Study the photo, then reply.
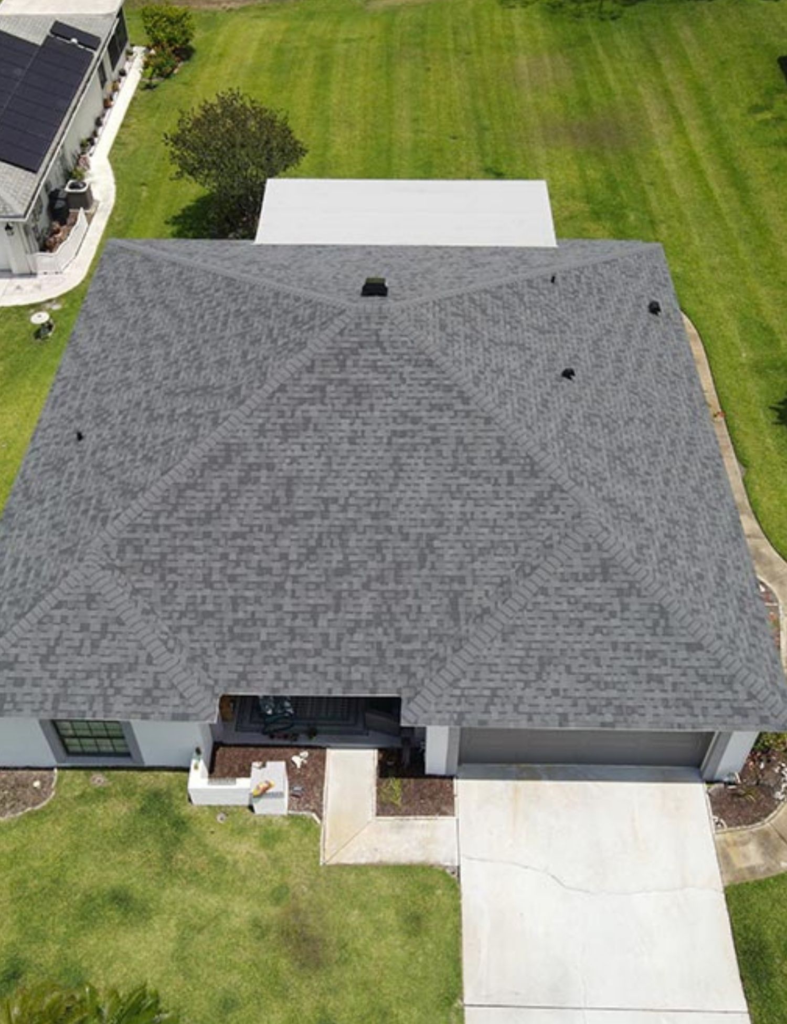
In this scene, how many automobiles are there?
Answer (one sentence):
The count of automobiles is 0.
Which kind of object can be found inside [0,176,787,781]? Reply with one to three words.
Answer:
house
